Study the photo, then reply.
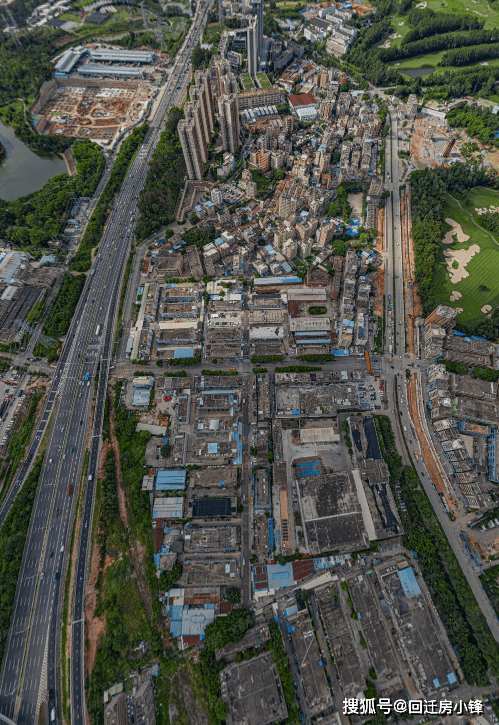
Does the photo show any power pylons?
Yes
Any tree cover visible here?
Yes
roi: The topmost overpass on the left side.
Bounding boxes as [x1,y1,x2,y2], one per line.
[53,349,111,382]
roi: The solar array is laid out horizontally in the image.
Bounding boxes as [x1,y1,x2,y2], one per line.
[193,498,231,515]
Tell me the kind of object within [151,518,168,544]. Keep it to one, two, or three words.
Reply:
shed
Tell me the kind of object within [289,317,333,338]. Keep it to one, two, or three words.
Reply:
building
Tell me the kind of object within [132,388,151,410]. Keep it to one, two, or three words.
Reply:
shed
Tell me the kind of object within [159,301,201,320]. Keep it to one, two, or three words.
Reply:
building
